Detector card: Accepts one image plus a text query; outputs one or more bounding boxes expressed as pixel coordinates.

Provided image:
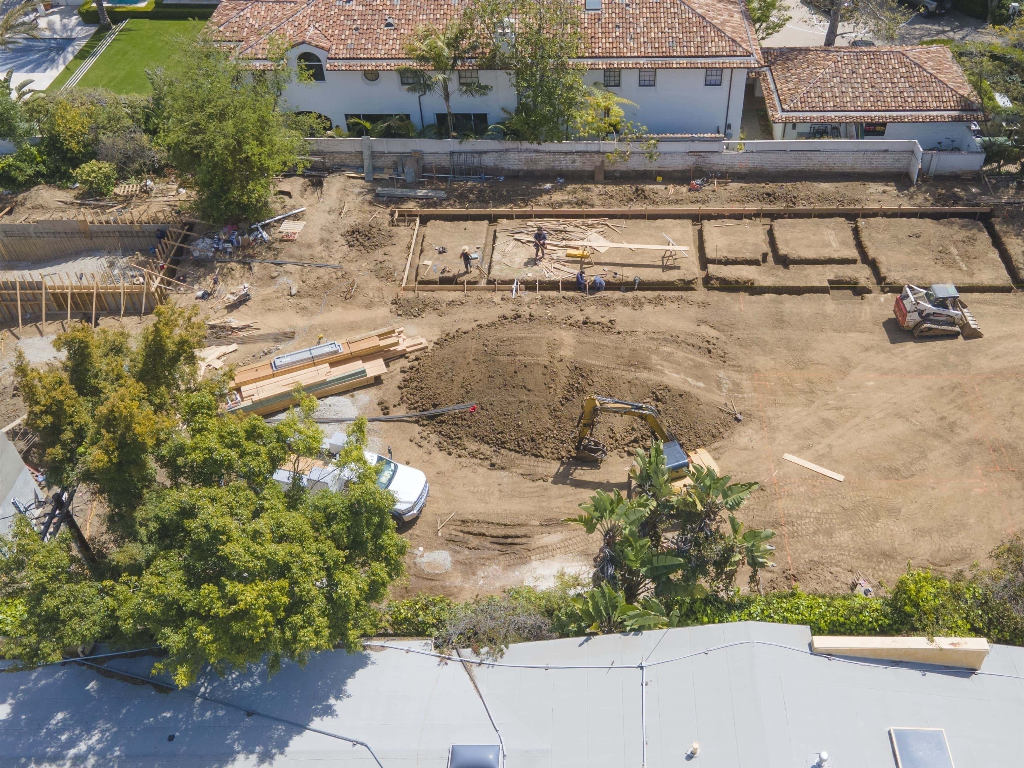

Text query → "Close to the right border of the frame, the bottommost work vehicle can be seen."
[893,280,990,345]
